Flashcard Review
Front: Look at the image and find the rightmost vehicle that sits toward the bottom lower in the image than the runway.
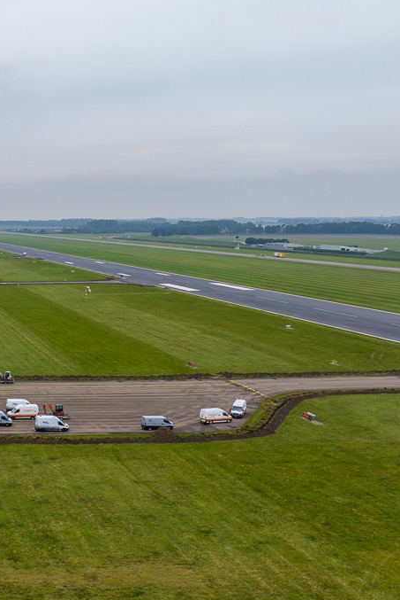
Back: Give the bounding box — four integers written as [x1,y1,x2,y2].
[224,399,243,418]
